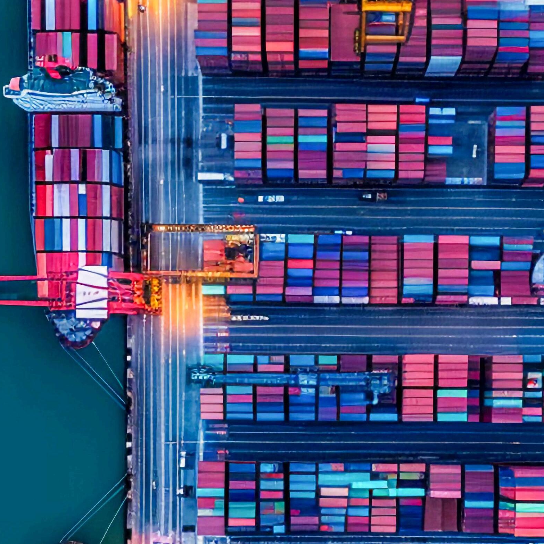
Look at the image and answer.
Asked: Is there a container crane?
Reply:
Yes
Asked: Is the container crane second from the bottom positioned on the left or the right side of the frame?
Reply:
left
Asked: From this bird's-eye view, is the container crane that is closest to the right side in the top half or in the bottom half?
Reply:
top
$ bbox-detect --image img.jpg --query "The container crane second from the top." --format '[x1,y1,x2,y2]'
[147,225,257,284]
